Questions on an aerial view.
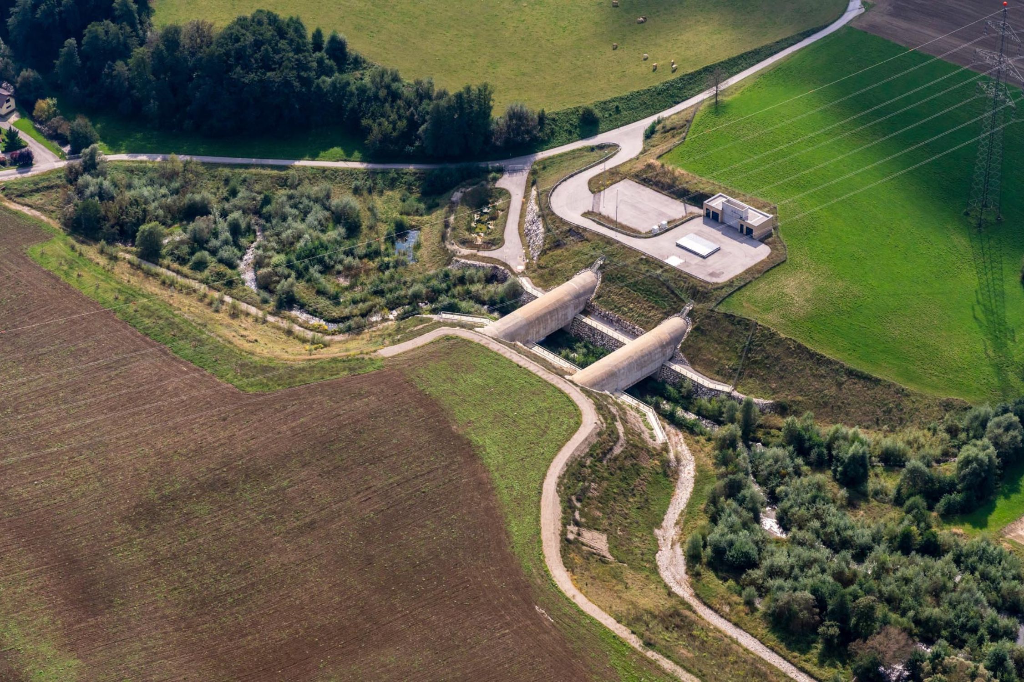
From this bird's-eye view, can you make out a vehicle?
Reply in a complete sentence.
No, this view has no vehicle in it.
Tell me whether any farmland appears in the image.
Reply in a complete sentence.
Yes, there's farmland in this view.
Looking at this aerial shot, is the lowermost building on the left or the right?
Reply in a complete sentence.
You can find the lowermost building on the right side of the picture.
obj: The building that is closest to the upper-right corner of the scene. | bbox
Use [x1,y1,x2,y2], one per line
[703,193,772,240]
